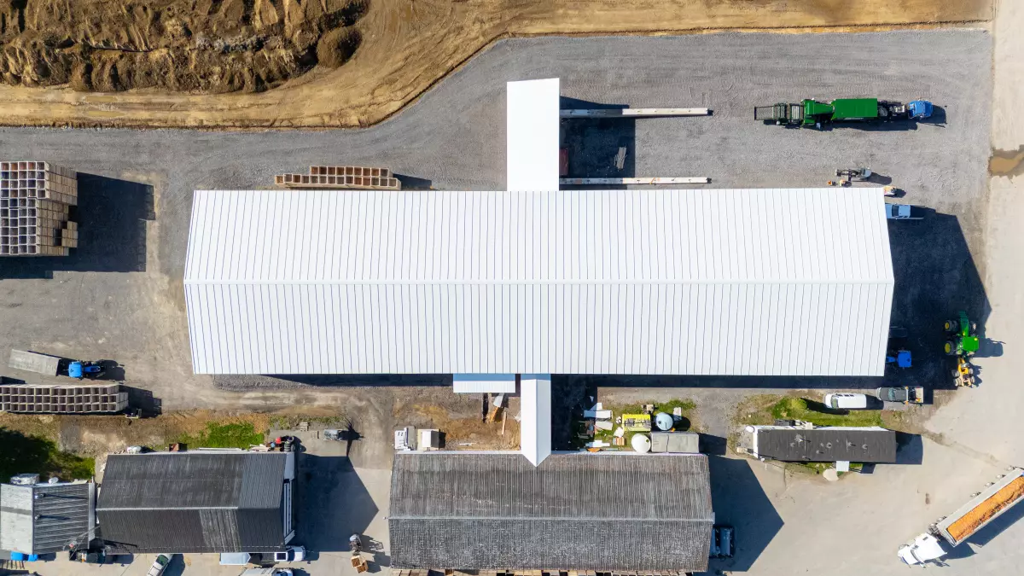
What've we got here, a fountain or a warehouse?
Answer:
warehouse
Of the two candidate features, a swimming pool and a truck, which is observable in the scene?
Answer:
truck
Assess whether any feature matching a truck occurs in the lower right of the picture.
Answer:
Yes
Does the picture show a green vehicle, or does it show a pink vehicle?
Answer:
green vehicle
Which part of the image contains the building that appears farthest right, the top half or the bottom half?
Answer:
bottom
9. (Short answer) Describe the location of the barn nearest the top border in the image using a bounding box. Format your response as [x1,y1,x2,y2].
[184,187,894,377]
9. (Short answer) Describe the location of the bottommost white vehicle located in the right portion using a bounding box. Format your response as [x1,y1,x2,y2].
[893,519,951,565]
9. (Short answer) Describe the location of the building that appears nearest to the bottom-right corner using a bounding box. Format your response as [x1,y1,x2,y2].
[751,426,896,463]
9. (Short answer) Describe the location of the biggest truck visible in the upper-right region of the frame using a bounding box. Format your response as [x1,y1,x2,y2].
[825,99,932,124]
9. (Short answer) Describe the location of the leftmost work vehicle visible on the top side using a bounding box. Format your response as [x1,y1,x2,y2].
[753,93,836,120]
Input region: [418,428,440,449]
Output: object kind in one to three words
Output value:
shed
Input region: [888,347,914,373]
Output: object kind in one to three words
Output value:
work vehicle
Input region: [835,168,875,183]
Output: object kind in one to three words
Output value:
vehicle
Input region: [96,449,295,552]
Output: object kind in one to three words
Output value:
building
